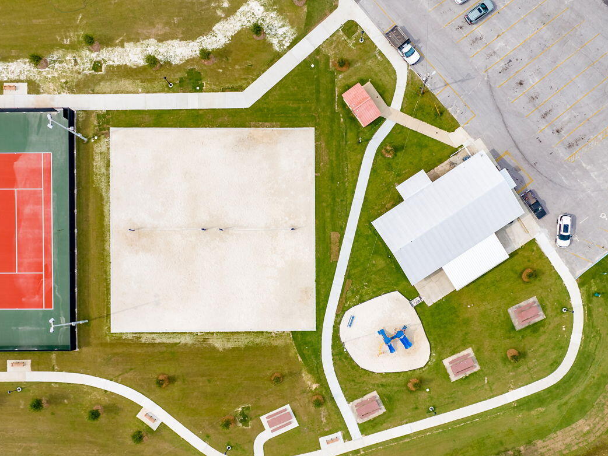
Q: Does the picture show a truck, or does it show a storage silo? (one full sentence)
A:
The image shows a truck.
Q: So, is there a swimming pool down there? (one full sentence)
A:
No, I find no swimming pool anywhere in the image.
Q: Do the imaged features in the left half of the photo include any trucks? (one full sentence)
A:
No, there's no truck to be seen in the left half of the photo.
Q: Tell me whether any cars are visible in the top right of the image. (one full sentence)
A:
Yes, I can see a car in the top right of the image.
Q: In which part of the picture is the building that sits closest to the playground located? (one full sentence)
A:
The building that sits closest to the playground is located in the right region of the scene.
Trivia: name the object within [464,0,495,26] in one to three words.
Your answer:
car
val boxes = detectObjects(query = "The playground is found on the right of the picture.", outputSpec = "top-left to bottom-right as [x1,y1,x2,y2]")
[377,324,413,356]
